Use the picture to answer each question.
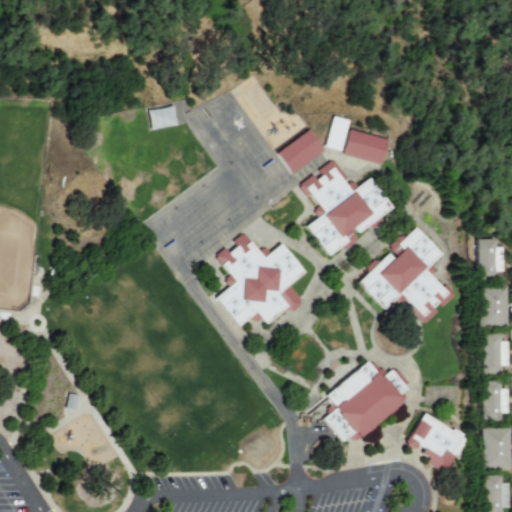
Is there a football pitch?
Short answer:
No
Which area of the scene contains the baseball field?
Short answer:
left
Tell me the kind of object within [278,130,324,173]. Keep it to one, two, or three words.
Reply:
building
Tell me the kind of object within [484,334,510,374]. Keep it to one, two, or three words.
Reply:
house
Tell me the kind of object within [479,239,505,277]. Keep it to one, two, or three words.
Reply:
house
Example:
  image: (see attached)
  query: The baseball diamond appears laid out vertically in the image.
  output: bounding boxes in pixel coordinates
[0,101,47,309]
